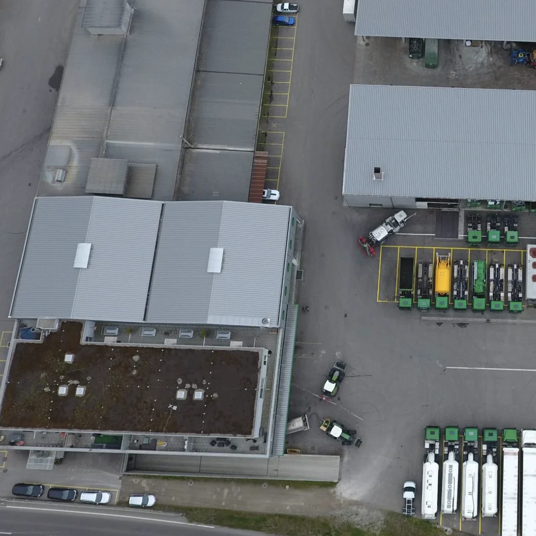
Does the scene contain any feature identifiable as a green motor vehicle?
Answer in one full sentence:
Yes, a green motor vehicle appears in the view.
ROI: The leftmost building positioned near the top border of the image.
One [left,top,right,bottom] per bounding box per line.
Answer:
[35,0,280,204]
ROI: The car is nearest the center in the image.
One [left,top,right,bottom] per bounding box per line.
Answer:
[263,188,281,200]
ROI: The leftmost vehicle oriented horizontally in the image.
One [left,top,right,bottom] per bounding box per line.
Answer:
[10,482,47,499]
